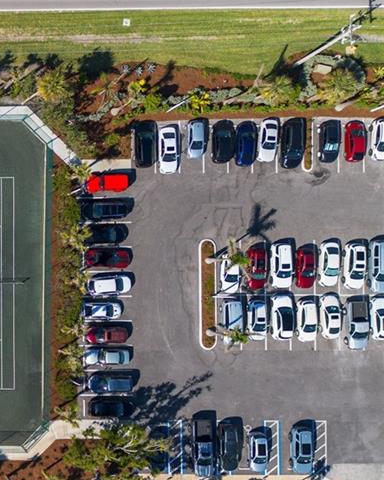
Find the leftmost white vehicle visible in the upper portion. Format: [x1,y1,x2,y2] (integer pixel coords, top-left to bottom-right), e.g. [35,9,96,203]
[156,127,179,173]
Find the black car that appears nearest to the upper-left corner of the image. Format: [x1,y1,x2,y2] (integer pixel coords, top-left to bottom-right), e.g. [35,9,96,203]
[133,121,158,167]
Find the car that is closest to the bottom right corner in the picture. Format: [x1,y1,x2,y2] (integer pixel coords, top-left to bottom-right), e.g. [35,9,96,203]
[288,425,314,470]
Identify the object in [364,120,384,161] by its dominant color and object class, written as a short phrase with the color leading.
white car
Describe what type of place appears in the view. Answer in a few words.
parking lot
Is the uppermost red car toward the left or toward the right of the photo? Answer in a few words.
right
